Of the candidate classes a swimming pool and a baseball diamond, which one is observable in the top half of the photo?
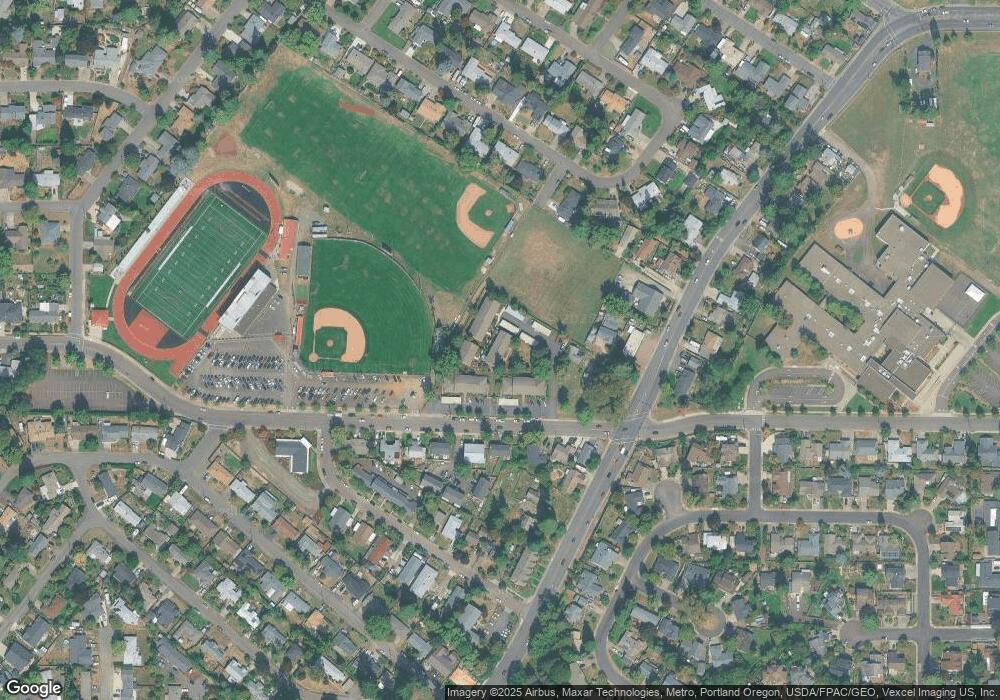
baseball diamond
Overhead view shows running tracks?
Yes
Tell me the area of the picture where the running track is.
left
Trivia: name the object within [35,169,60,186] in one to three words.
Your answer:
house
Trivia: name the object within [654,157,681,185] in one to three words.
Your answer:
house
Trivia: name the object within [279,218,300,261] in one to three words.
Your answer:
building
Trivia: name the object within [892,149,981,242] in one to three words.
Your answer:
baseball field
